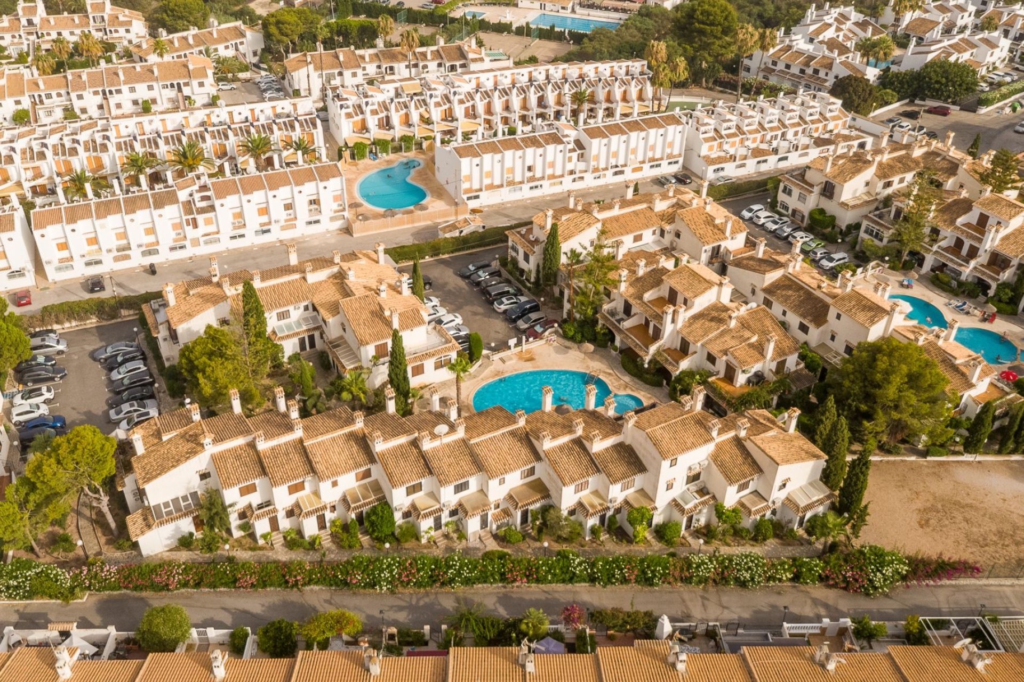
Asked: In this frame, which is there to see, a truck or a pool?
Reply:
pool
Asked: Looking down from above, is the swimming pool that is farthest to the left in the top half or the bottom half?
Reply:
top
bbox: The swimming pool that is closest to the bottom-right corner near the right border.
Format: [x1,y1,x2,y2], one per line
[949,323,1024,368]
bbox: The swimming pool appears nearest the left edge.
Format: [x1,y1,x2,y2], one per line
[356,157,430,209]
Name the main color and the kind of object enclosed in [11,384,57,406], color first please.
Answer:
white car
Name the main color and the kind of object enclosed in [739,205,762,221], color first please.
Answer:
white car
